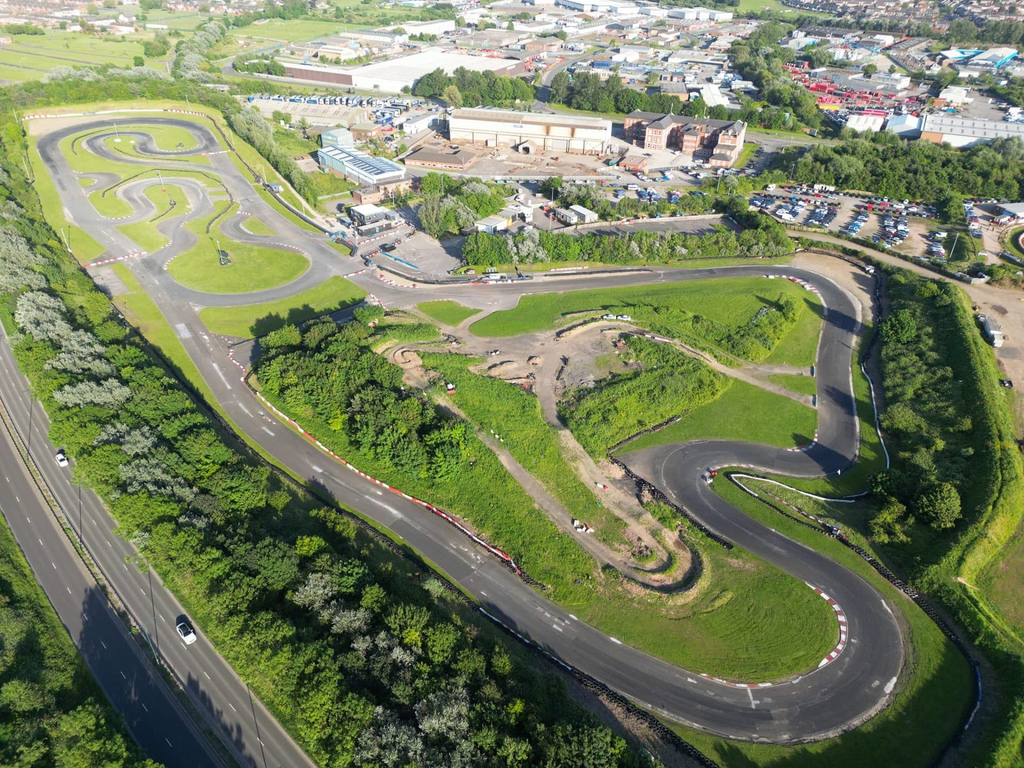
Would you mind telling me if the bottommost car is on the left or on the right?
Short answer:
left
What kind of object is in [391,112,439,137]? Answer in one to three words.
building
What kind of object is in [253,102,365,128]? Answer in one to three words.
shed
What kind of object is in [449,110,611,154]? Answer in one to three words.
shed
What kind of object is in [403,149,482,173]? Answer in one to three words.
building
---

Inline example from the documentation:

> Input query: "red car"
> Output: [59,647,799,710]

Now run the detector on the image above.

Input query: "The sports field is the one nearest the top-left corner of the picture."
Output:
[0,30,177,76]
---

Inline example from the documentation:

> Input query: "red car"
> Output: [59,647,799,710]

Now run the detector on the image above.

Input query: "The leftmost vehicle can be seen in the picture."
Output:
[55,452,68,465]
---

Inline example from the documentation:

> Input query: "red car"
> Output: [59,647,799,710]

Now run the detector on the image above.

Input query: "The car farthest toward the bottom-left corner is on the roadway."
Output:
[176,622,197,644]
